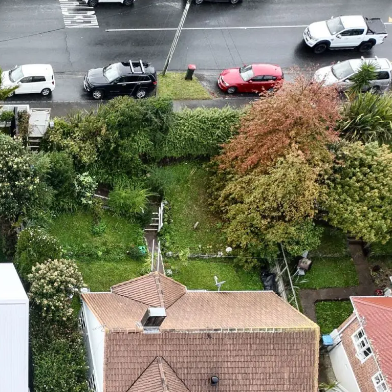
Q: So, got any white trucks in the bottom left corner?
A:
No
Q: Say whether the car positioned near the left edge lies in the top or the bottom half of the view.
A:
top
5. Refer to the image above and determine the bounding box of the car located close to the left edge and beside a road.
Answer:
[0,61,55,94]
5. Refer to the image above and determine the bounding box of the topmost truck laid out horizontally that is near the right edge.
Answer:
[297,14,382,52]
